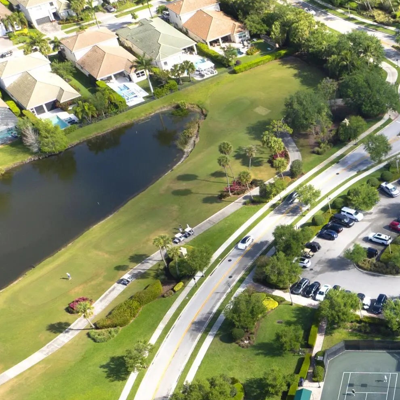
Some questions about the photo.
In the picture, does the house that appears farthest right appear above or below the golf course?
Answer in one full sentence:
You can see the house that appears farthest right above the golf course in the frame.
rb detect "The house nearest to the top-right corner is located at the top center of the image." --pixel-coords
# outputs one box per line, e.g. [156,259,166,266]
[164,0,249,49]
